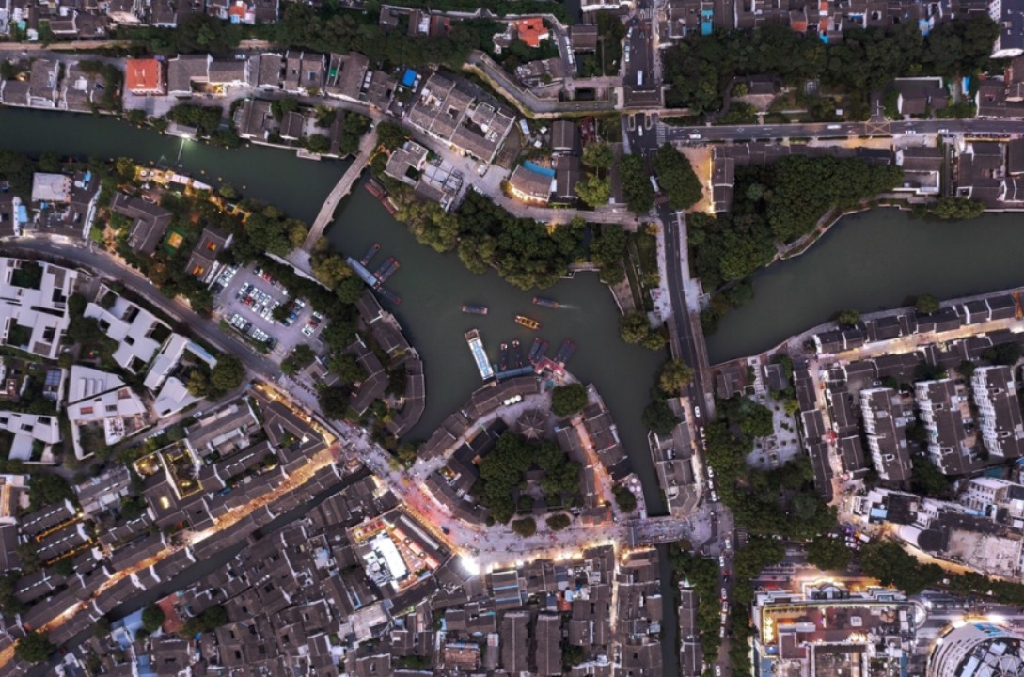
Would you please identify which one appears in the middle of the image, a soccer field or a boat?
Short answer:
boat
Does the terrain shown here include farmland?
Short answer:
No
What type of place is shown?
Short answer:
residential area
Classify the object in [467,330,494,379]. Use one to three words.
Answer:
boat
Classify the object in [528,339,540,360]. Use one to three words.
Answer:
boat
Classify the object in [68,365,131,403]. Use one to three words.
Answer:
building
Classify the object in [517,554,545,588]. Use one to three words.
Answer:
house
